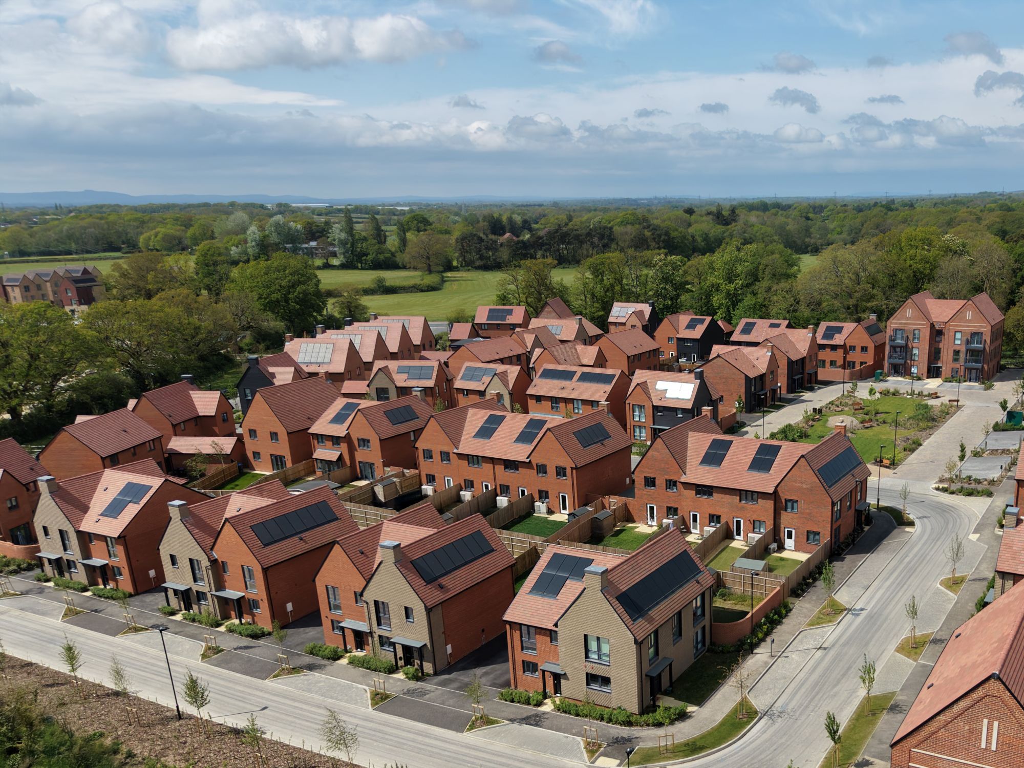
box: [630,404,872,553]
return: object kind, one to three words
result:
house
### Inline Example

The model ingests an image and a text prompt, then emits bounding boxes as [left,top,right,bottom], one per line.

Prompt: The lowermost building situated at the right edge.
[887,579,1024,768]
